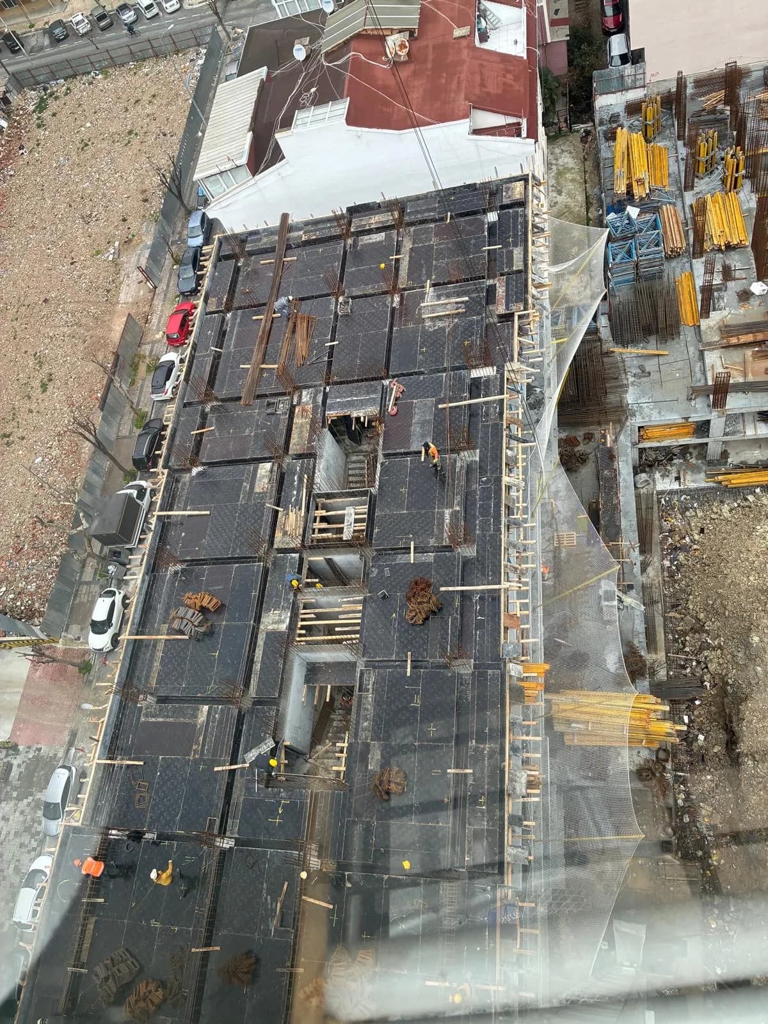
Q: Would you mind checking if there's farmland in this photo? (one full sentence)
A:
No, the scene doesn't show any farmland.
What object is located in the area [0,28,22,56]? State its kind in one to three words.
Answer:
car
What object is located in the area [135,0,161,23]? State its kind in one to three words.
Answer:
car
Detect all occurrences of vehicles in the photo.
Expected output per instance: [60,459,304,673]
[114,0,139,28]
[174,248,206,296]
[147,353,185,403]
[0,28,22,56]
[46,15,70,45]
[127,417,169,471]
[81,469,155,551]
[90,2,115,33]
[160,0,183,16]
[604,27,633,65]
[163,304,197,347]
[6,850,56,938]
[135,0,161,23]
[88,587,128,653]
[599,0,627,36]
[192,185,214,210]
[68,8,93,38]
[183,209,214,251]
